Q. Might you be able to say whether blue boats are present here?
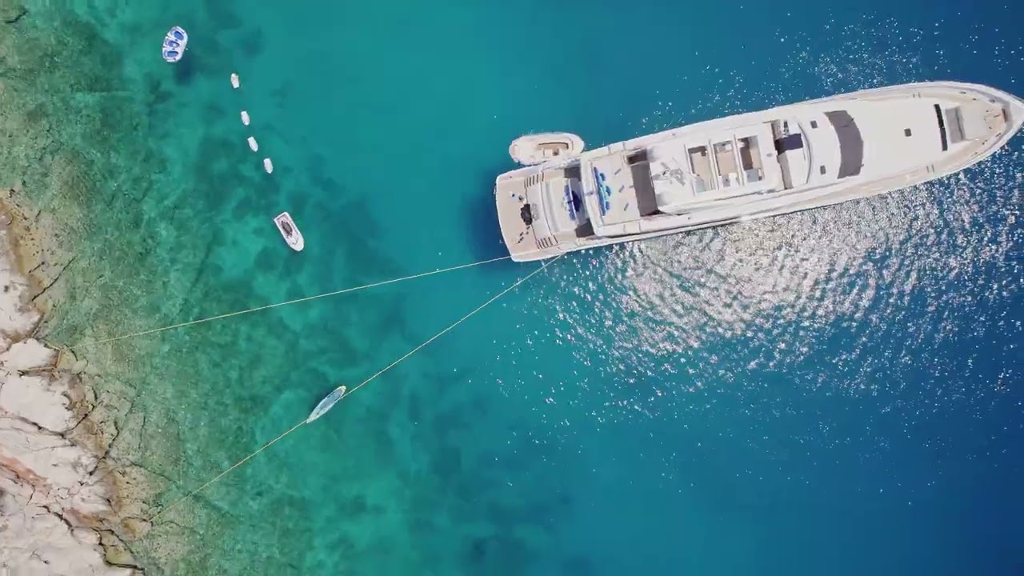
No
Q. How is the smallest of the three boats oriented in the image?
diagonally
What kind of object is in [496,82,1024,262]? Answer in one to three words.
boat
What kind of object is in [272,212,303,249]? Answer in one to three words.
boat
